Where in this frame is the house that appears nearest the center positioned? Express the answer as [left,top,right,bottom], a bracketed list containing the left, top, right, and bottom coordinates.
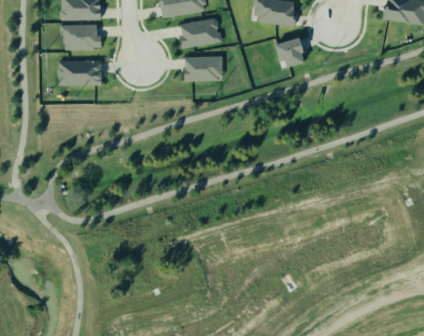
[184,56,224,81]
